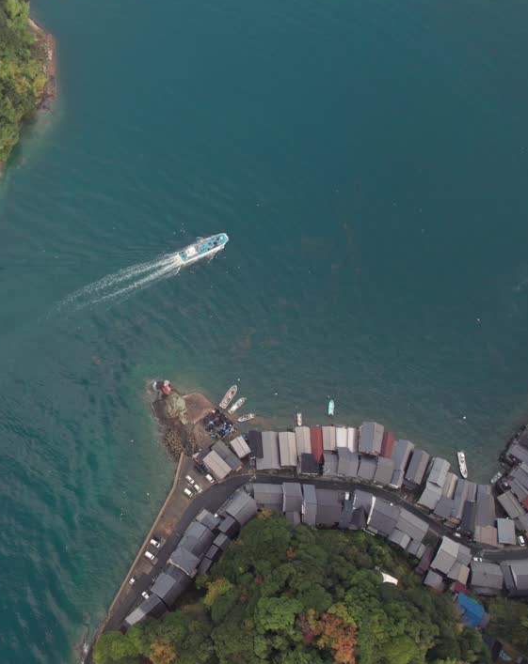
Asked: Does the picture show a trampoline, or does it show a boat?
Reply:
boat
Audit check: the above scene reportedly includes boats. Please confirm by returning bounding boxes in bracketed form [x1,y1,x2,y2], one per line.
[328,400,334,417]
[176,232,229,263]
[219,384,238,410]
[296,411,302,427]
[456,451,466,479]
[227,397,247,416]
[489,471,503,484]
[238,413,255,422]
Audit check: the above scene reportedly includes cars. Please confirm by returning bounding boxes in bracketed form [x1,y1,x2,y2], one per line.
[196,464,208,474]
[182,488,194,498]
[194,483,202,492]
[516,535,527,548]
[128,577,135,586]
[185,475,195,484]
[453,531,462,539]
[140,590,152,601]
[205,472,215,484]
[472,556,483,563]
[149,538,161,549]
[143,550,155,562]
